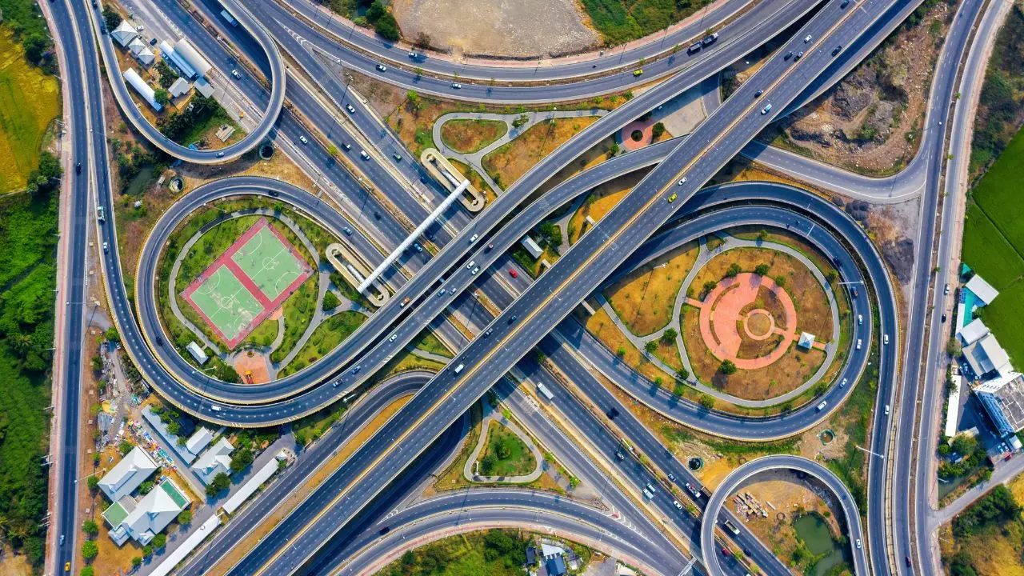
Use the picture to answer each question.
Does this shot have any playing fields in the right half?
No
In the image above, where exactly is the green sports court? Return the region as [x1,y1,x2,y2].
[179,217,315,350]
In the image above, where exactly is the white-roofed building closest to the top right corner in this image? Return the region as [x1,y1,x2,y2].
[960,272,1000,303]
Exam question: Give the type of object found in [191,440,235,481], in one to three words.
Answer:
house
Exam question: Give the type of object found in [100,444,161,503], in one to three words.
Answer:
building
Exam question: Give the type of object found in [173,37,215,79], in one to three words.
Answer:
building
